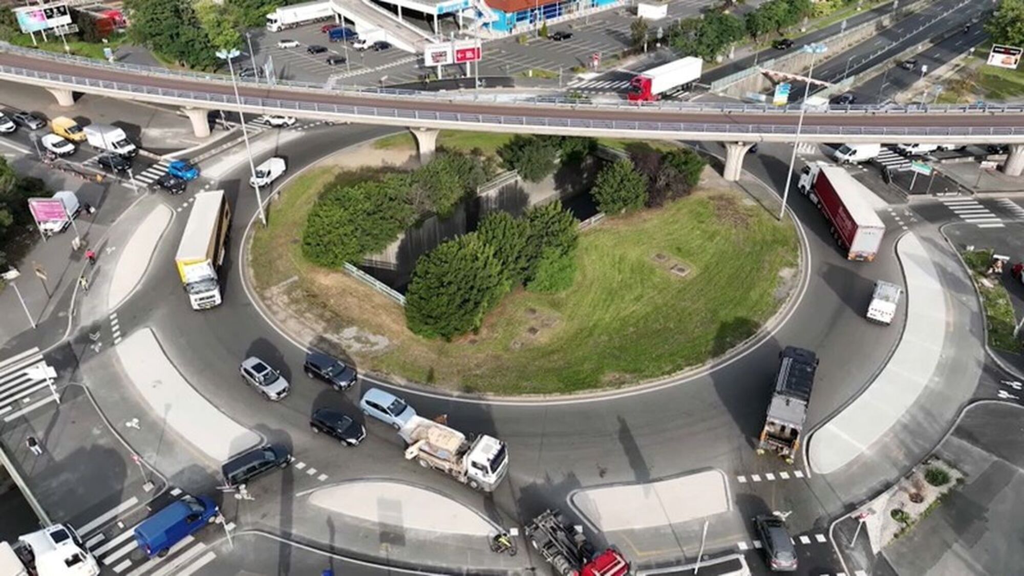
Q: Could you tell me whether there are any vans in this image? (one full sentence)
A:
Yes, the frame does contain a van.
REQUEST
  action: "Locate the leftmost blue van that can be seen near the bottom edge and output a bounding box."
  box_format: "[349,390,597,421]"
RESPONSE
[134,494,218,554]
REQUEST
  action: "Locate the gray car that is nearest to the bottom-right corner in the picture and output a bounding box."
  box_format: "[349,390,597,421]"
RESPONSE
[755,514,798,572]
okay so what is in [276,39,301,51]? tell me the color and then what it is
white vehicle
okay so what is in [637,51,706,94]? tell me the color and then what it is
white trailer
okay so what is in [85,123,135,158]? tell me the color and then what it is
white van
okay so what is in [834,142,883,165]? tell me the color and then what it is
white vehicle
